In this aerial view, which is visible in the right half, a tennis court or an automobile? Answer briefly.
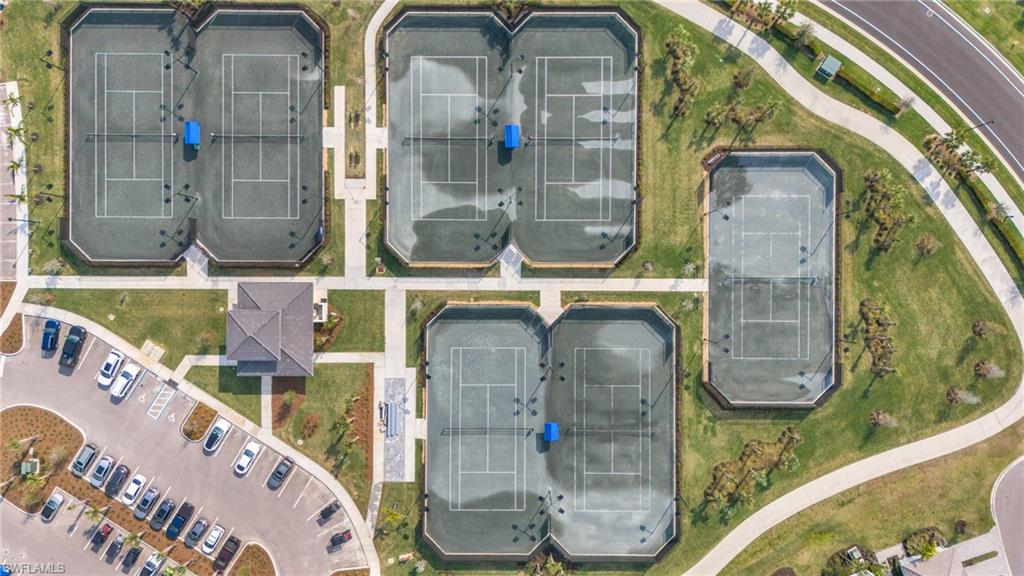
tennis court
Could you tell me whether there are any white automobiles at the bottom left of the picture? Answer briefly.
Yes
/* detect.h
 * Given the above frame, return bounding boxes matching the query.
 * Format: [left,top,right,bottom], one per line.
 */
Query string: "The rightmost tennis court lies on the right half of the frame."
[709,153,836,404]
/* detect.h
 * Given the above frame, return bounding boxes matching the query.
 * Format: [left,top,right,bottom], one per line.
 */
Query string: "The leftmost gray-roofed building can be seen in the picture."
[226,282,314,377]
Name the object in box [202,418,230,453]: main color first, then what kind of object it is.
white car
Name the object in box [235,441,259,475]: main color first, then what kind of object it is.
white car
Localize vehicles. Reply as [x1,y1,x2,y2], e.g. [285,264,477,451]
[120,547,143,571]
[103,536,125,559]
[134,486,162,521]
[235,441,259,475]
[318,501,340,521]
[122,473,147,506]
[99,350,125,388]
[110,362,140,400]
[140,551,167,576]
[268,457,294,491]
[202,523,227,555]
[328,528,351,547]
[72,445,98,477]
[42,319,61,352]
[186,517,211,549]
[39,490,66,524]
[58,325,86,369]
[202,418,230,453]
[91,456,116,487]
[89,524,112,547]
[150,497,177,531]
[166,500,197,541]
[105,465,131,498]
[213,534,244,573]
